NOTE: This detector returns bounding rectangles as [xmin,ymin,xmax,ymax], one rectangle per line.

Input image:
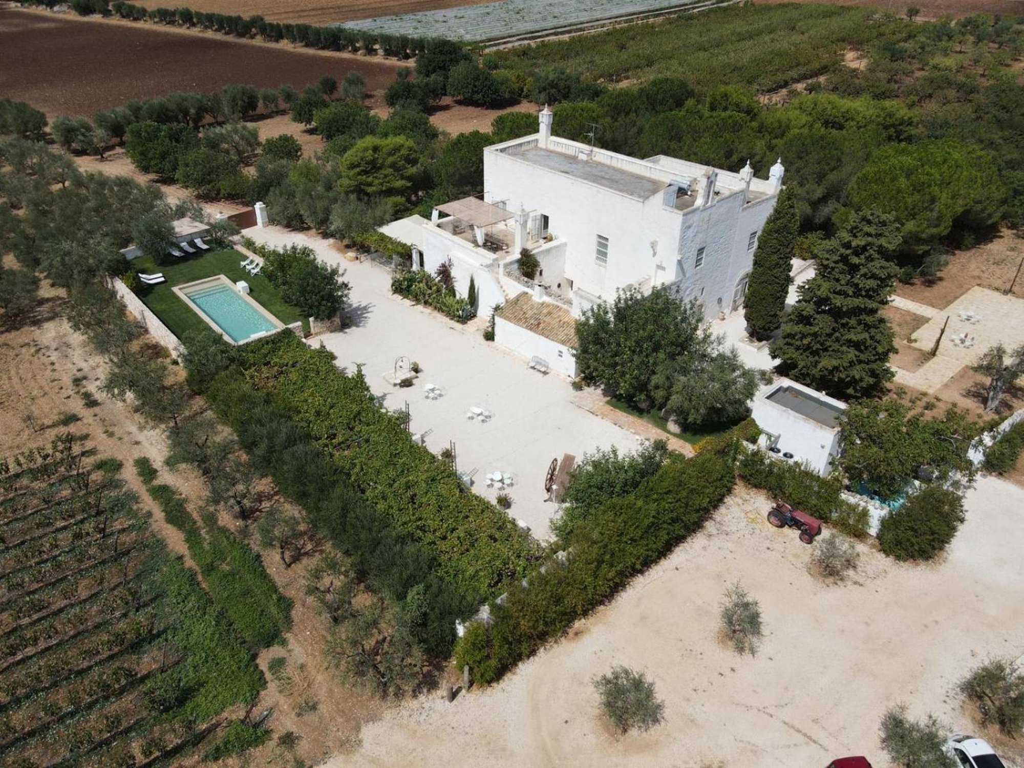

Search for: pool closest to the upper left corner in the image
[172,274,287,341]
